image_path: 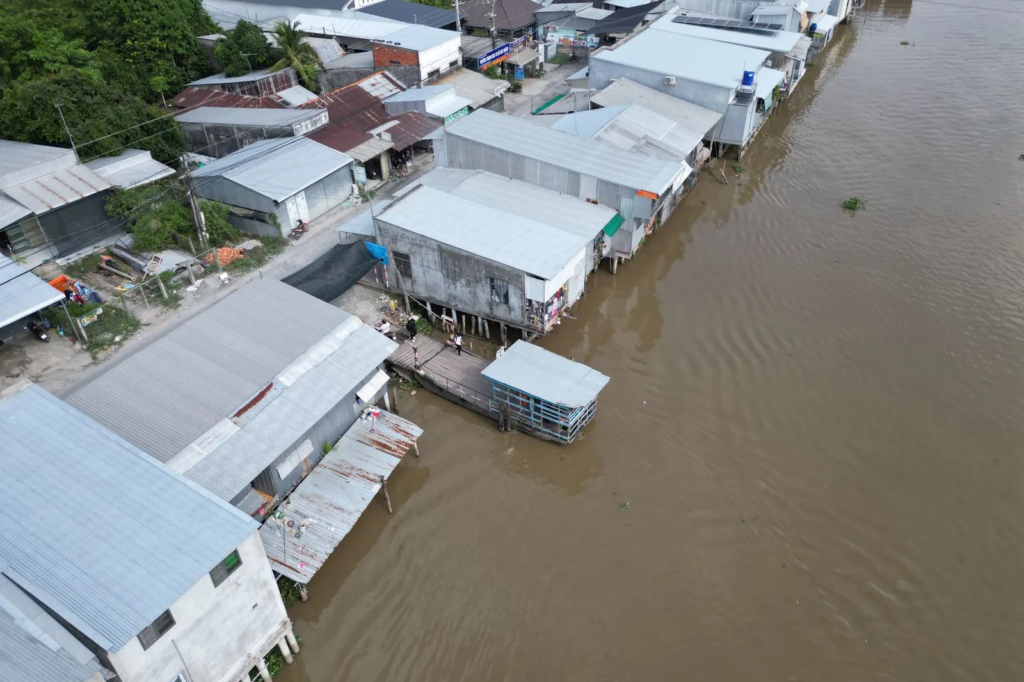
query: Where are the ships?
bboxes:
[420,340,609,448]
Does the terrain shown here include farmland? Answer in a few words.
No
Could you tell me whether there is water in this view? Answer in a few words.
Yes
